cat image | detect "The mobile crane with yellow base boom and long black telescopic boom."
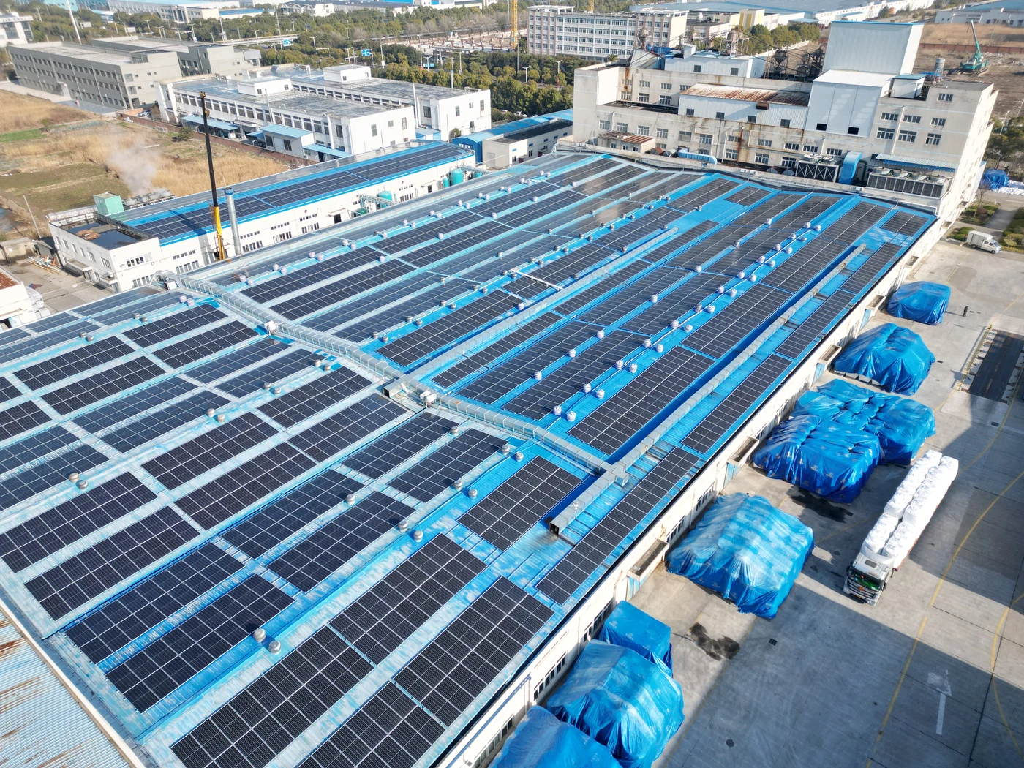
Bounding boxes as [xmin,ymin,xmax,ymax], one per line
[200,88,224,260]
